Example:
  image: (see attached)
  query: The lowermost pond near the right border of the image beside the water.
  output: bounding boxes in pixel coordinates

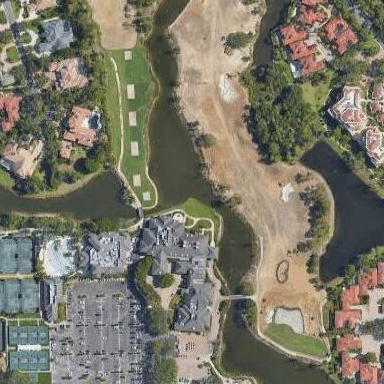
[303,141,384,283]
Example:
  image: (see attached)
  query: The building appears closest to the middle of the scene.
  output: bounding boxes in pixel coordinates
[134,216,215,277]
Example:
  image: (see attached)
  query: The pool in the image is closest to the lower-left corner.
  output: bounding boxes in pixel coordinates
[40,235,76,277]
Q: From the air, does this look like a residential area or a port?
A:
residential area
